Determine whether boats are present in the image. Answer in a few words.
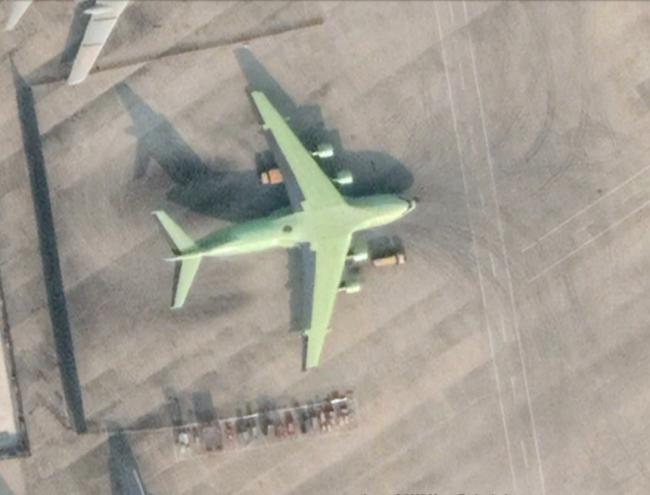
No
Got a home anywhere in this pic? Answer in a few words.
No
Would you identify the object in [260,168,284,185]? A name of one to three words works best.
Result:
vehicle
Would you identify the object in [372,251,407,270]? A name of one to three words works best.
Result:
vehicle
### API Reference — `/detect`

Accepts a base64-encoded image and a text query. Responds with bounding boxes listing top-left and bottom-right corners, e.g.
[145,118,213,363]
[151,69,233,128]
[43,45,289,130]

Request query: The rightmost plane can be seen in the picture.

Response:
[149,92,416,369]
